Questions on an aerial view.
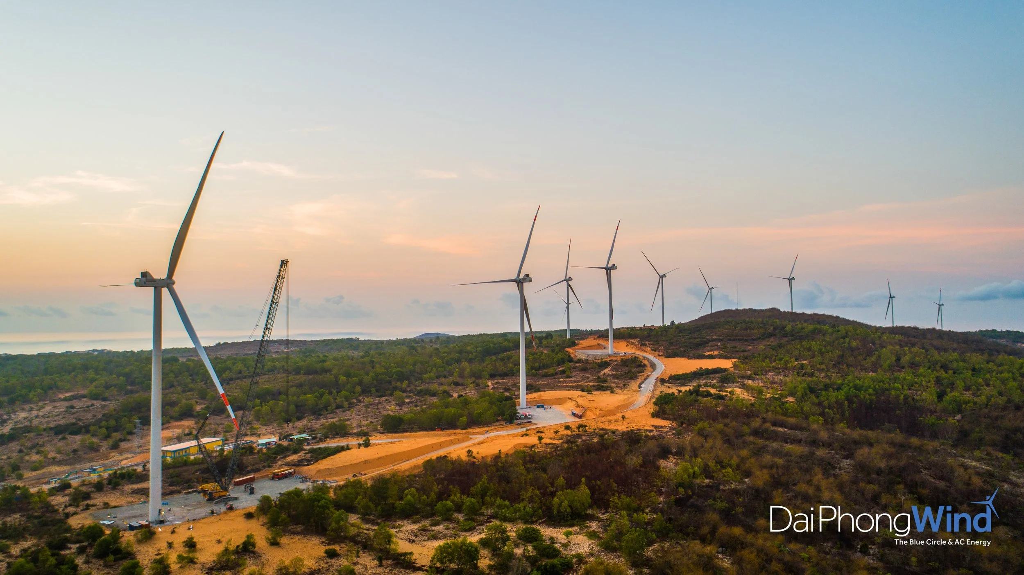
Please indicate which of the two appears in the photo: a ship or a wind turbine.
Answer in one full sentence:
There is a wind turbine in the scene.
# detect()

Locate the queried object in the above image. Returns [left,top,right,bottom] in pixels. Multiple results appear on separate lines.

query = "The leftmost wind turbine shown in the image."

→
[118,132,241,519]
